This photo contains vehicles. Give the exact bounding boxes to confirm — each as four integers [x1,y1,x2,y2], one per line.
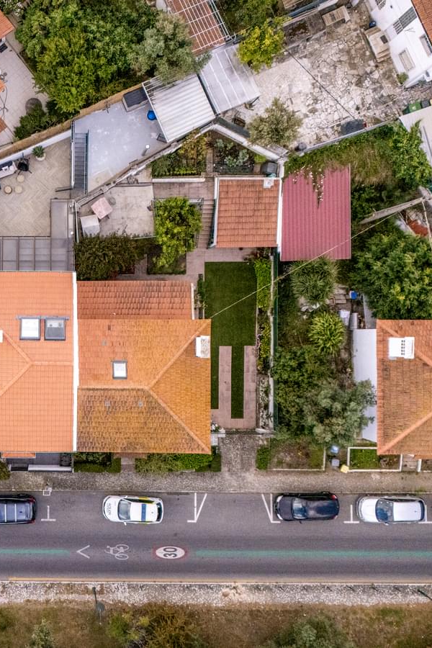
[273,490,339,524]
[102,493,163,525]
[0,492,37,522]
[356,492,428,526]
